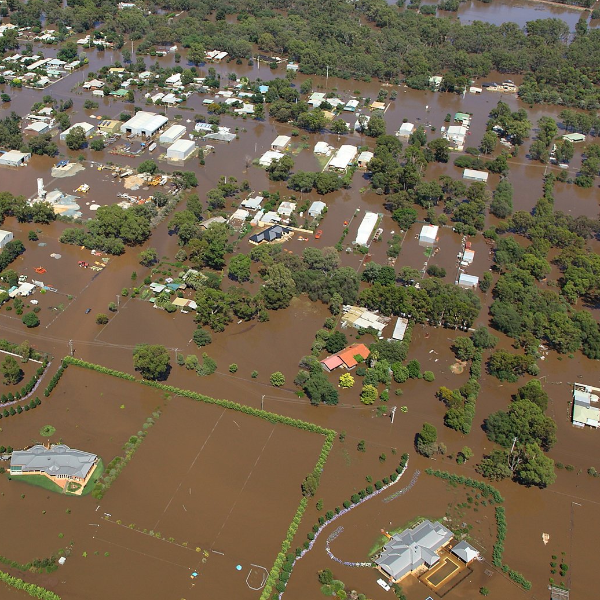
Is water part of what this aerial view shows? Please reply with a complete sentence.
Yes, there's water in this view.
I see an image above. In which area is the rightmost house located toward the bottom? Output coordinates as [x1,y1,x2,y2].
[566,389,600,429]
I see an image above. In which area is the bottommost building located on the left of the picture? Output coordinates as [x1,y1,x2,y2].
[9,443,97,495]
